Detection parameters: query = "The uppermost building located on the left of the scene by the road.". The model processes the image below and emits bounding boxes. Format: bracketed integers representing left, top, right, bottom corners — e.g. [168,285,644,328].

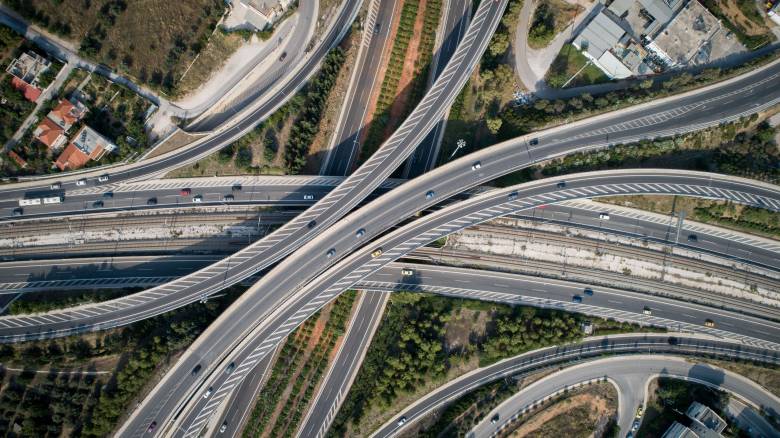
[243,0,289,36]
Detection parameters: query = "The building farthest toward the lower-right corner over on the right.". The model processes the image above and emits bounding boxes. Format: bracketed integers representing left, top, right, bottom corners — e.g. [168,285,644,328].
[639,396,728,438]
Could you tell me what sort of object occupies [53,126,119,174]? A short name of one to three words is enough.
house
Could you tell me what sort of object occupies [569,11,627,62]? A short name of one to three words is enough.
building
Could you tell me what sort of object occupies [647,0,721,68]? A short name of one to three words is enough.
building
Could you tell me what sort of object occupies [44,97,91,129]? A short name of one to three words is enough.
house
